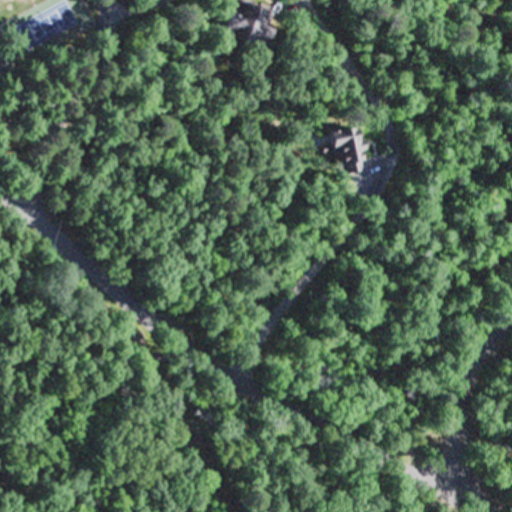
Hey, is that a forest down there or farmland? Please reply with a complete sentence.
This image shows a forest.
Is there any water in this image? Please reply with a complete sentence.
No, no water is visible.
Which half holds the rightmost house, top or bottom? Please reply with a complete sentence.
It is in the top half that the rightmost house appears.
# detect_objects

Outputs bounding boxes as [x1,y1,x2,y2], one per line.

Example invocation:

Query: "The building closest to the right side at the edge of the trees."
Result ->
[334,126,369,174]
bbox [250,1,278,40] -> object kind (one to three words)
house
